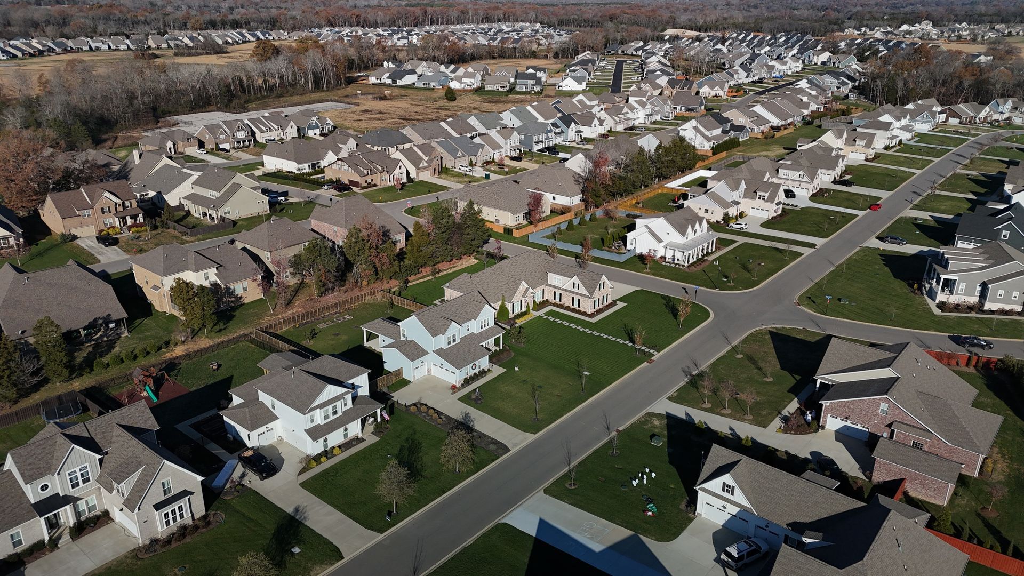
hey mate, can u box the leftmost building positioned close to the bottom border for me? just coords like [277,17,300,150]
[0,393,207,556]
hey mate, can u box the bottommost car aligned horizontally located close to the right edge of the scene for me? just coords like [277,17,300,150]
[962,337,993,350]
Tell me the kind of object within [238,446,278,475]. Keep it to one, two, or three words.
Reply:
truck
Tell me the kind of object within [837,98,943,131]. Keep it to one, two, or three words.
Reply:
house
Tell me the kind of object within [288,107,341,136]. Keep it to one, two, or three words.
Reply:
house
